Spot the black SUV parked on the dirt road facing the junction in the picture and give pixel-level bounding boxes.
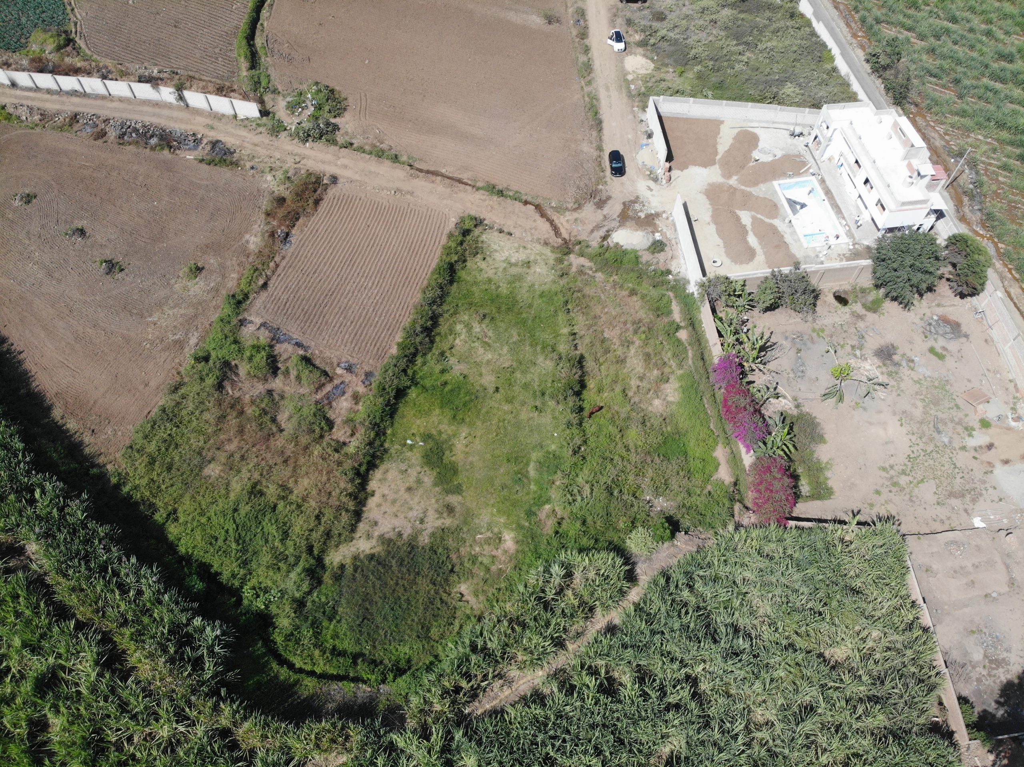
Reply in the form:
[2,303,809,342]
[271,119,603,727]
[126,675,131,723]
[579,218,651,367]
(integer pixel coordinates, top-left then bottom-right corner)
[608,149,625,175]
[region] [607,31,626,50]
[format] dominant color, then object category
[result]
white car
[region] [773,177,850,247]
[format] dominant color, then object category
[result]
white swimming pool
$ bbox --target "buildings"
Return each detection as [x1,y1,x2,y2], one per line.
[806,100,950,245]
